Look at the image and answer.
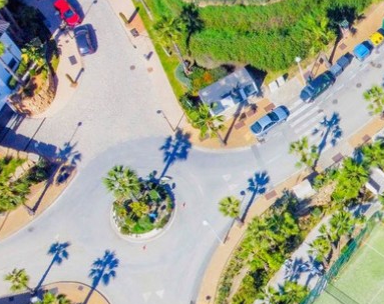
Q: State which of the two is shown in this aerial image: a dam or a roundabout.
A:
roundabout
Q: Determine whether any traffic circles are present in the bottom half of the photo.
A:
Yes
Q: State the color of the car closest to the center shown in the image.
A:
blue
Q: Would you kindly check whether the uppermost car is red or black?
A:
red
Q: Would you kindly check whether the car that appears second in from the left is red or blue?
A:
blue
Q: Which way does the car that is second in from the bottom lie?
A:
diagonally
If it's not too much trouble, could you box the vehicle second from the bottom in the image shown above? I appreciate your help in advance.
[297,67,334,100]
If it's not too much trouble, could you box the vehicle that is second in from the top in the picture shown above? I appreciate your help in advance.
[71,21,96,54]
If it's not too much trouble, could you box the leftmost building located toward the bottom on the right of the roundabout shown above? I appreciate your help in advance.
[288,175,314,200]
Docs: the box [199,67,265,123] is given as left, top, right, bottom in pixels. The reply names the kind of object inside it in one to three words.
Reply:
building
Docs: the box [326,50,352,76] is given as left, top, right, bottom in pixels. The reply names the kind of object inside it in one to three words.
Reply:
car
